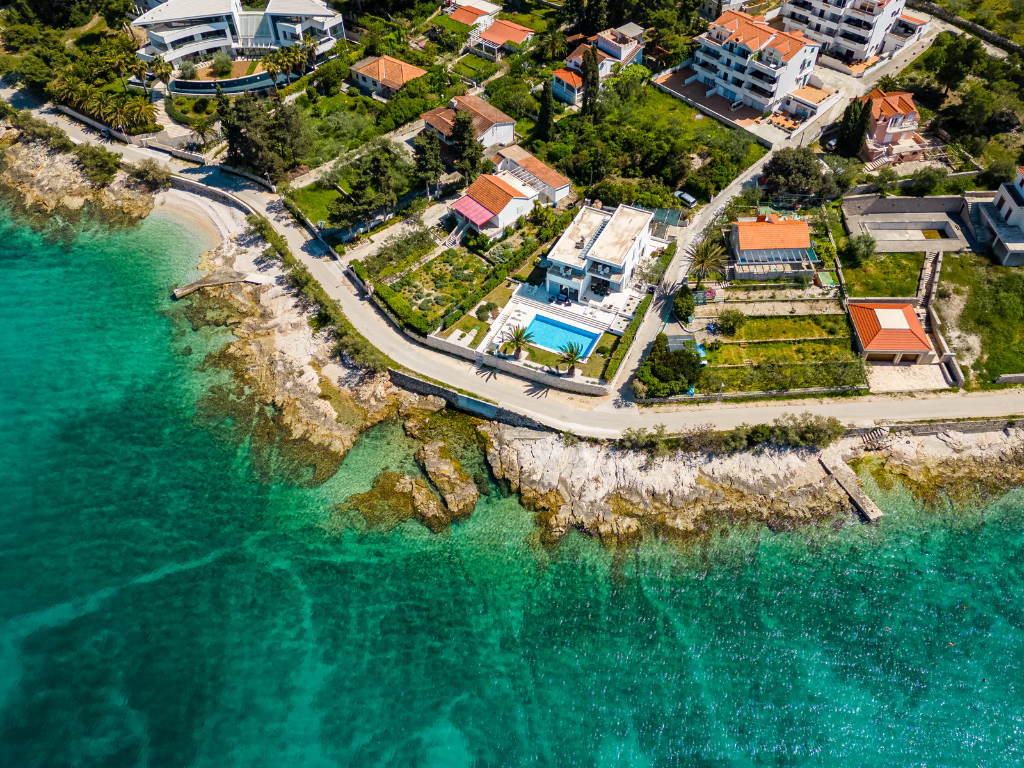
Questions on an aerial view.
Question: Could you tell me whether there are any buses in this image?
No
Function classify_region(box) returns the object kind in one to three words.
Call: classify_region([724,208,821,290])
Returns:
house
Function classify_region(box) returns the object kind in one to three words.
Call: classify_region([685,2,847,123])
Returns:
building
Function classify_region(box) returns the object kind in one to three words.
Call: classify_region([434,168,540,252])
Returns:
house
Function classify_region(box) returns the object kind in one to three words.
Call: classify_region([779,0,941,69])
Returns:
building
